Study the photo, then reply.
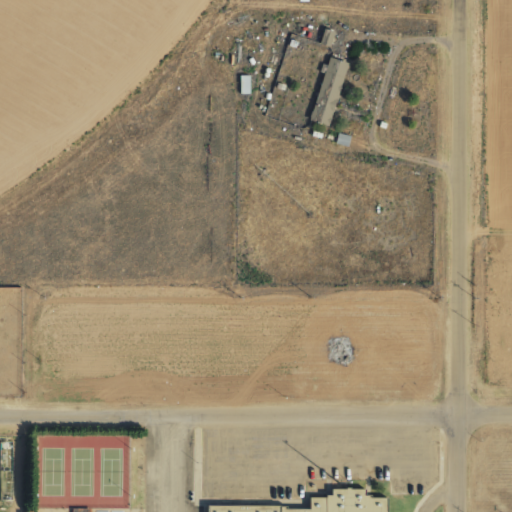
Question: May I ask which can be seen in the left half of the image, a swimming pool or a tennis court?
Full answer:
You can see a tennis court in the left half of the image.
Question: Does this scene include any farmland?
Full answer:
Yes, farmland can be seen from above here.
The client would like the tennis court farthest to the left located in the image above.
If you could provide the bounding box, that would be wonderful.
[38,436,68,508]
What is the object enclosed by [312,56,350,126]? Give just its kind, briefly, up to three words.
house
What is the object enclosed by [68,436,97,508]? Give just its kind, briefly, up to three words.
tennis court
